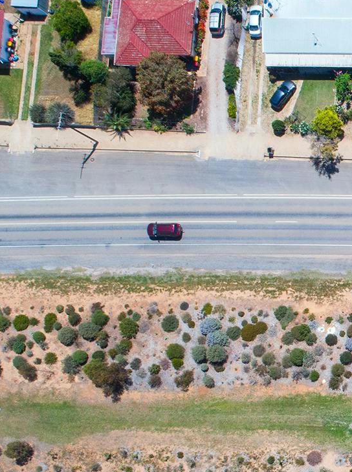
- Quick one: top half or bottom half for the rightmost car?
top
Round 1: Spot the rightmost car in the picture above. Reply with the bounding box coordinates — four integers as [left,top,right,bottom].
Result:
[272,82,299,113]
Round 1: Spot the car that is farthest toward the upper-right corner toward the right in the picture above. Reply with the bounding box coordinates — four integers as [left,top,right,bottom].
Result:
[247,6,263,41]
